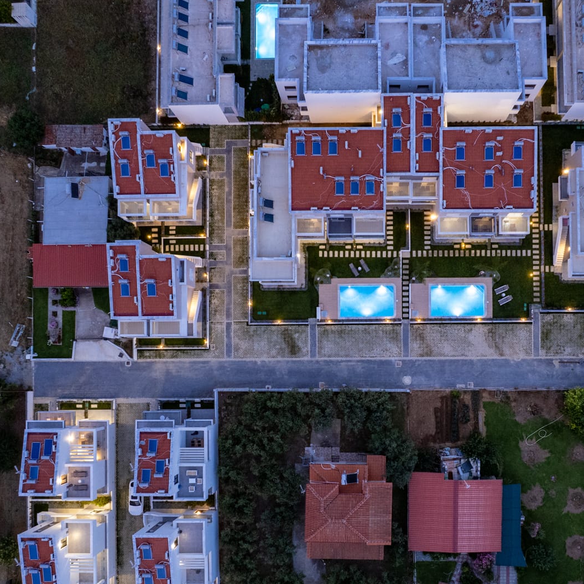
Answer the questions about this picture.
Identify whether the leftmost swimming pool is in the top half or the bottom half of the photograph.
top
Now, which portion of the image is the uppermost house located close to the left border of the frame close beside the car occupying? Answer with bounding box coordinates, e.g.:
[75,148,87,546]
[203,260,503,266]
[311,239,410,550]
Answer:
[19,409,120,500]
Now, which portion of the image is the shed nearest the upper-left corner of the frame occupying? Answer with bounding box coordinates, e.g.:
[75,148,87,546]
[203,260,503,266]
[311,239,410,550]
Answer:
[44,124,110,159]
